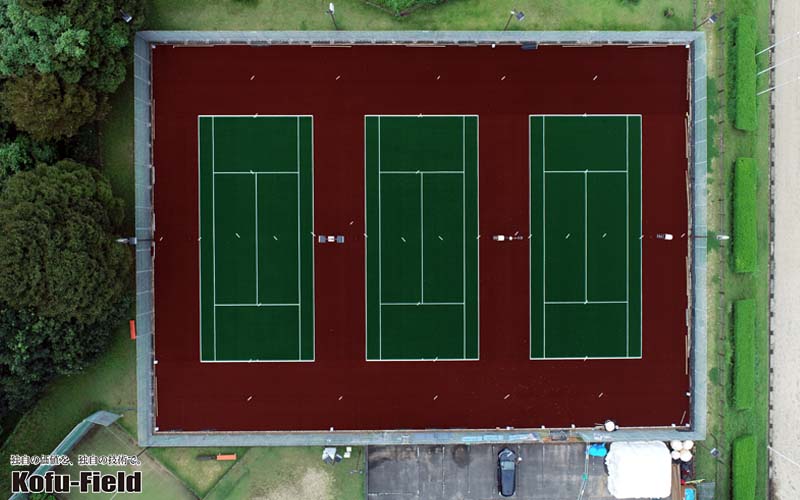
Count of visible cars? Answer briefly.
1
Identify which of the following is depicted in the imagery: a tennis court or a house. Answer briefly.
tennis court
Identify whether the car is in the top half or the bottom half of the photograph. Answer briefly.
bottom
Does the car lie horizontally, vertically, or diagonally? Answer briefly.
vertically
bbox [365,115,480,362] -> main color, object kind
green tennis court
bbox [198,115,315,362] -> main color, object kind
green tennis court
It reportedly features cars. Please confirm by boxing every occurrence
[496,447,519,497]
